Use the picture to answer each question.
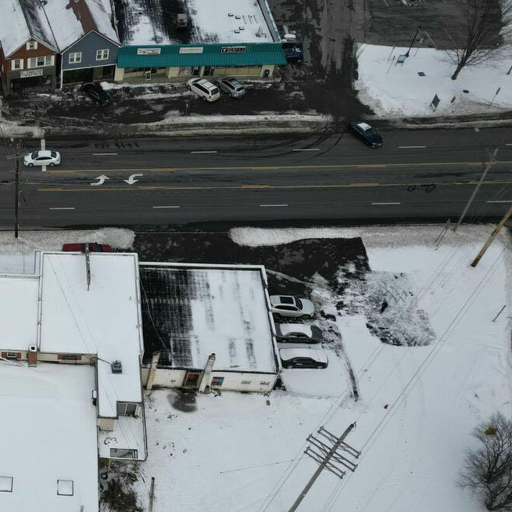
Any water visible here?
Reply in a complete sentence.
No, there's no water in this view.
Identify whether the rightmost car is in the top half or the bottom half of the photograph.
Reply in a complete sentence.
The rightmost car is in the top half of the image.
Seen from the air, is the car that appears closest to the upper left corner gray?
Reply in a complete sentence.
No, the car that appears closest to the upper left corner is actually black.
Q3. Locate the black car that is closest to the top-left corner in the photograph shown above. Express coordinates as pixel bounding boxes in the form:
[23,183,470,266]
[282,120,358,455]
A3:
[80,81,115,106]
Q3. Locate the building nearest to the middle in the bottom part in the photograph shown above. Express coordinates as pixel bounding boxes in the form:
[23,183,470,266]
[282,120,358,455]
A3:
[137,261,288,397]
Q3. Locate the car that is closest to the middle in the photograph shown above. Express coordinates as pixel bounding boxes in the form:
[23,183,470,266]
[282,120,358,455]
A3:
[269,295,318,319]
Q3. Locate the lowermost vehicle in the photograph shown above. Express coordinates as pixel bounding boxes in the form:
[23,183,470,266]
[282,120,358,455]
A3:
[283,348,334,372]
